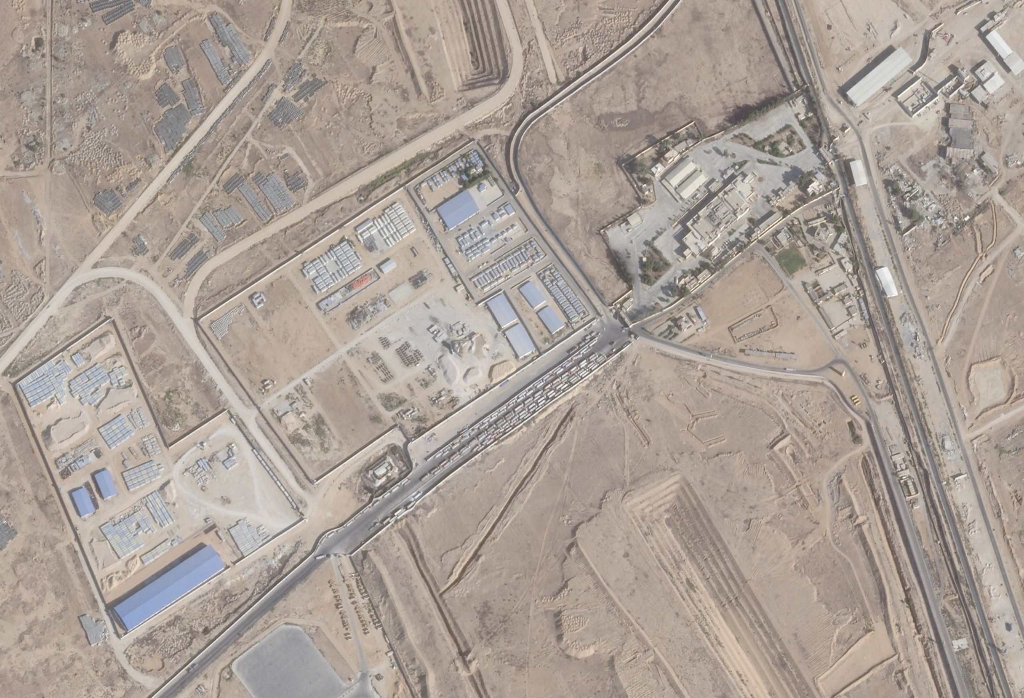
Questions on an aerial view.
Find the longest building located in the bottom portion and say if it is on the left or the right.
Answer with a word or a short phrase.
left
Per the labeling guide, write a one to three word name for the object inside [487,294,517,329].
building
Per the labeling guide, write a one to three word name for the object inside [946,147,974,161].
building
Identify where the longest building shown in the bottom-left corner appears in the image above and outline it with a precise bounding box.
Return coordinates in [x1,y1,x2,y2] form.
[113,545,225,633]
